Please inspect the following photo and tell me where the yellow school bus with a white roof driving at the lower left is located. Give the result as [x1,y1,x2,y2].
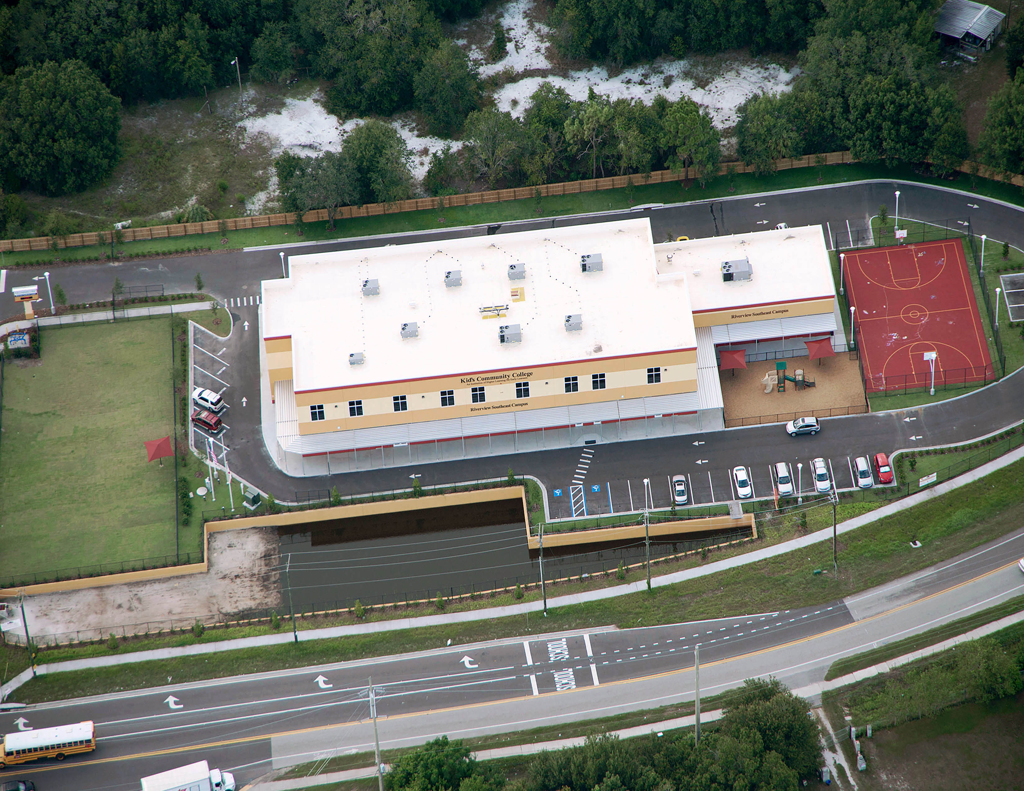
[0,724,96,768]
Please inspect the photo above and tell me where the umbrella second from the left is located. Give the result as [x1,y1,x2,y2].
[719,349,747,376]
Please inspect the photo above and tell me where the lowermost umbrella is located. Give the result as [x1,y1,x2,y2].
[144,436,174,467]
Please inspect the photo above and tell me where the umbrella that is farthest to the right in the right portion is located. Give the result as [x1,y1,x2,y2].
[804,337,835,366]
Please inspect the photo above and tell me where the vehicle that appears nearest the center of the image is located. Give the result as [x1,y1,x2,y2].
[671,472,689,504]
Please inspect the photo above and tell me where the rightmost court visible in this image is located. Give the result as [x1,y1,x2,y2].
[840,238,995,392]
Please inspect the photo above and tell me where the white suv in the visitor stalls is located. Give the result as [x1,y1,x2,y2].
[190,386,225,411]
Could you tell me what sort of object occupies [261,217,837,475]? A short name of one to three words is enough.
building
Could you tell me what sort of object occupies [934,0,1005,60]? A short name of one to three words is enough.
shed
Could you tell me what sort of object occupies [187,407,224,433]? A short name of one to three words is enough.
car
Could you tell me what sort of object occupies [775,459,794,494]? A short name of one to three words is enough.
car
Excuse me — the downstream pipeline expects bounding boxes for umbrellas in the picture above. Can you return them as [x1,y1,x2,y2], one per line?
[804,337,835,366]
[719,349,747,376]
[144,436,174,467]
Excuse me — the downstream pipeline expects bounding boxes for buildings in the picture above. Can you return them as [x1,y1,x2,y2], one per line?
[261,217,837,475]
[934,0,1005,60]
